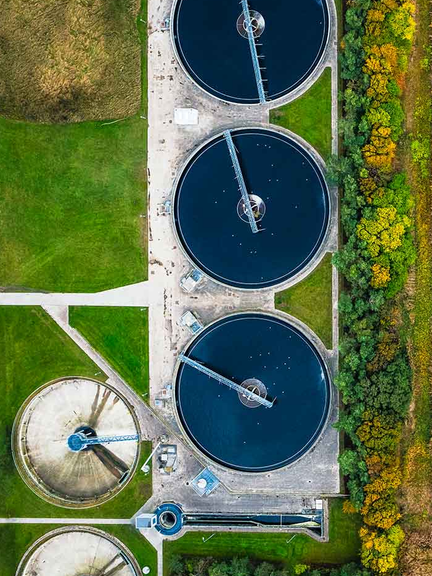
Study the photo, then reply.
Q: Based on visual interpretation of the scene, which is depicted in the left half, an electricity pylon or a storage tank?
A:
storage tank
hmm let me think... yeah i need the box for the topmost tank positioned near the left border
[12,377,141,507]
